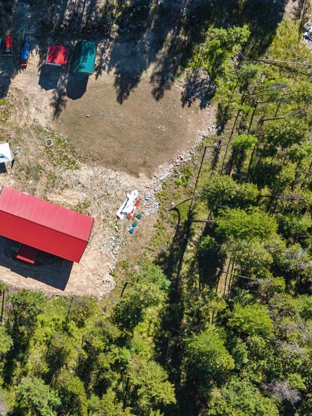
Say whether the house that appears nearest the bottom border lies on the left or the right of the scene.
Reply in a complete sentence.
You can find the house that appears nearest the bottom border on the left side of the picture.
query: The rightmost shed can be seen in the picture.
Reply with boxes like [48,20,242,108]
[66,40,94,77]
